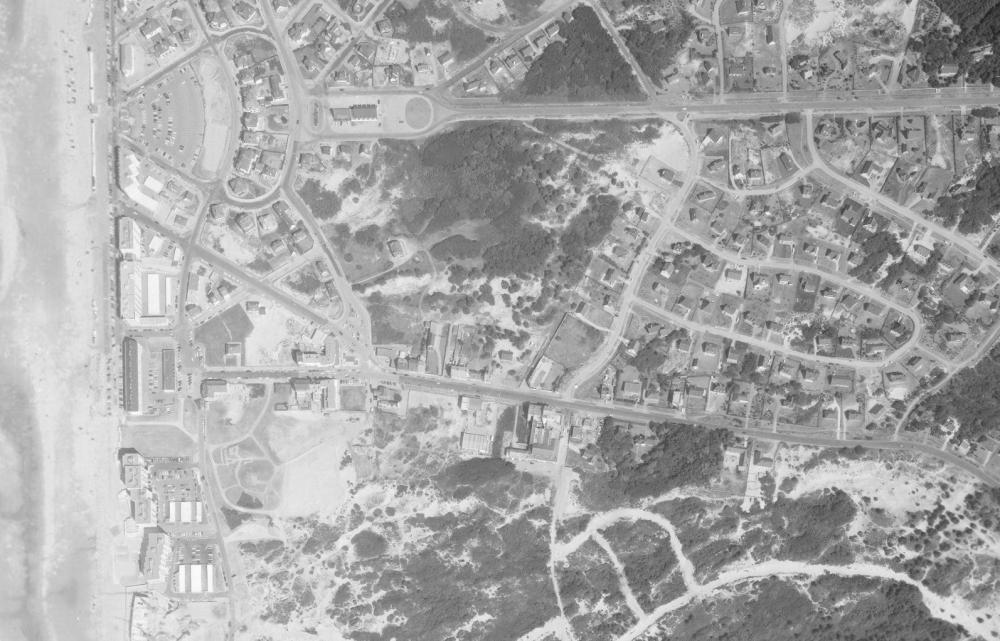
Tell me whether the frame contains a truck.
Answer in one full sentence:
No, the picture doesn't show any truck.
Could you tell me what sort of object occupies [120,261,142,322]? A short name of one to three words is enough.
building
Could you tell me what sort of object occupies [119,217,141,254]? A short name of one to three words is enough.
building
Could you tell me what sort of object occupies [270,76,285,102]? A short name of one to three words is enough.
house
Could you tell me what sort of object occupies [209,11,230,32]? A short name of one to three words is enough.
house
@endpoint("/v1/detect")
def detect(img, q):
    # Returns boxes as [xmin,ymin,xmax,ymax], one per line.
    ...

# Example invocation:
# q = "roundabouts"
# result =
[398,94,438,137]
